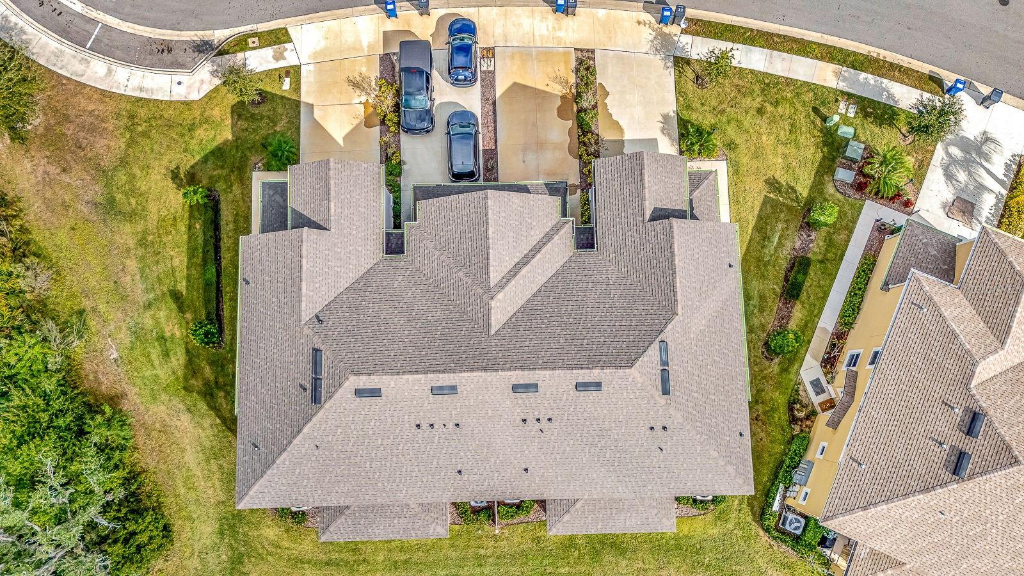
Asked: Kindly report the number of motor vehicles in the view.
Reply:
three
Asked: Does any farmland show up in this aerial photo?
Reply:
No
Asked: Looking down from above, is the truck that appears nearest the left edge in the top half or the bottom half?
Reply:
top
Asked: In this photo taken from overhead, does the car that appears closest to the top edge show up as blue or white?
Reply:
blue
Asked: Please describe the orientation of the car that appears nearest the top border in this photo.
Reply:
from top to bottom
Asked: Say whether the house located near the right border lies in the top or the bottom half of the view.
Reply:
bottom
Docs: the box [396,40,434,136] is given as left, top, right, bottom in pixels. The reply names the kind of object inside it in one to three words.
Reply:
truck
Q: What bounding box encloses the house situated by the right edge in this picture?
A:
[786,217,1024,576]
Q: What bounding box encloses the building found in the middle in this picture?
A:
[233,154,756,542]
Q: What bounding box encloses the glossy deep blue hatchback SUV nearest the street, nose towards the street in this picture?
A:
[444,17,480,87]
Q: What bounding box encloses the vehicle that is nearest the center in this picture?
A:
[444,110,482,181]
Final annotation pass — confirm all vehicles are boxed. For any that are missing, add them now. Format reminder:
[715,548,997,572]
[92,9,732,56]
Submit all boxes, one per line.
[396,40,434,136]
[444,17,480,87]
[444,110,482,181]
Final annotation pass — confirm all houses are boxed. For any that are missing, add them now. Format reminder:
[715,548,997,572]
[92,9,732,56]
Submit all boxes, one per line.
[786,217,1024,576]
[233,154,756,542]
